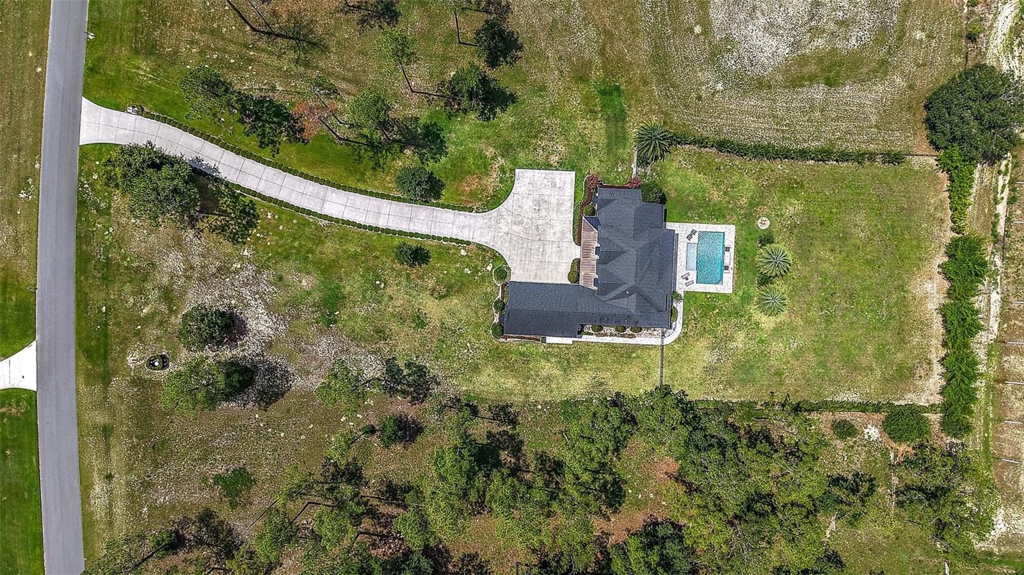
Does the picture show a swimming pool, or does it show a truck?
swimming pool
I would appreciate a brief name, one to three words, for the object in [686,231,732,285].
swimming pool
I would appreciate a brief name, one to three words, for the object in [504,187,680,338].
house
